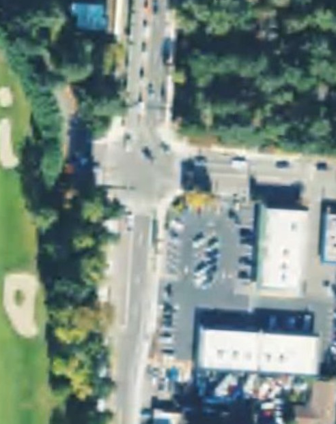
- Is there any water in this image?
No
